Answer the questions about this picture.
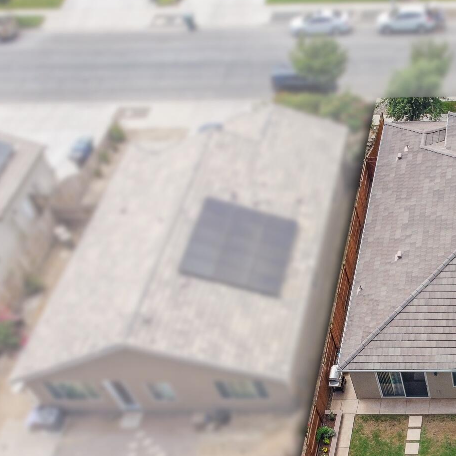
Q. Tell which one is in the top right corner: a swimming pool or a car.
car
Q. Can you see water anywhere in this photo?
No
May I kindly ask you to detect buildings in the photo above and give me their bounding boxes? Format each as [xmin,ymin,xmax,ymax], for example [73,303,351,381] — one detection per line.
[7,101,351,412]
[336,110,456,399]
[0,121,62,289]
